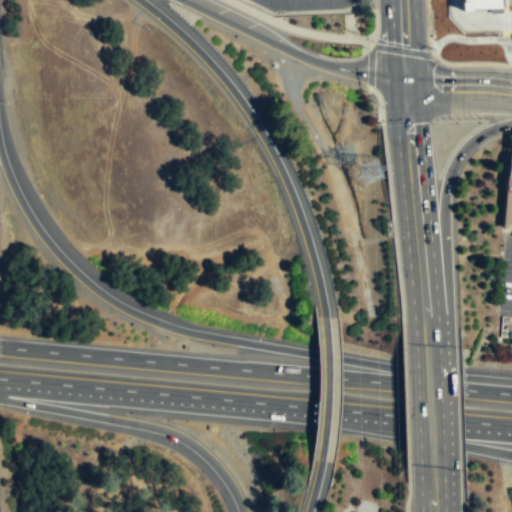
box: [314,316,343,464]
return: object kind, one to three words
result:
overpass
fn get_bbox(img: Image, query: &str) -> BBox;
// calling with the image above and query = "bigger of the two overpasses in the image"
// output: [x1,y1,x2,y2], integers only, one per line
[402,344,462,500]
